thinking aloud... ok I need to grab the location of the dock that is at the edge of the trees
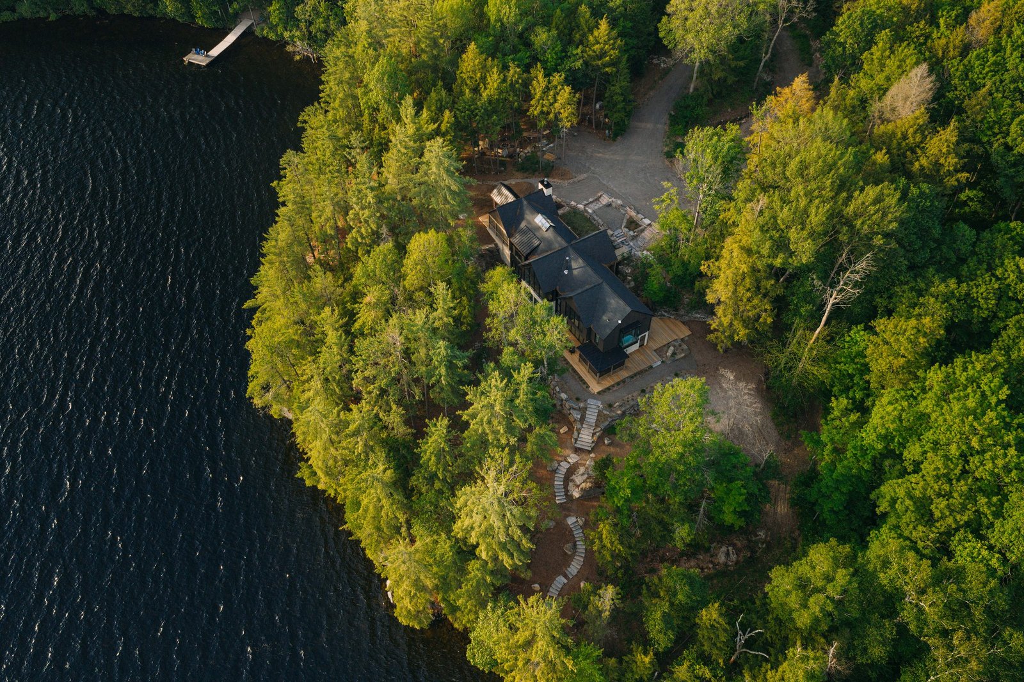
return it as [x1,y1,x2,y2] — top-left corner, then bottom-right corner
[184,19,253,67]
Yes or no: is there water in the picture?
Yes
